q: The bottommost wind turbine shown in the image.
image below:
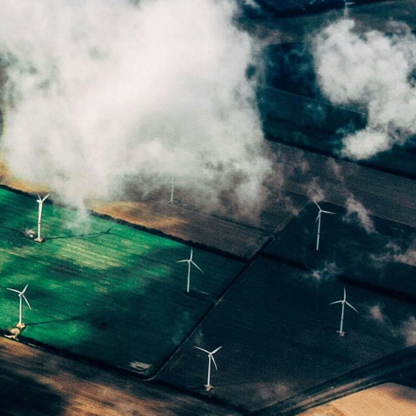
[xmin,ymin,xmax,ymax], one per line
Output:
[193,347,222,389]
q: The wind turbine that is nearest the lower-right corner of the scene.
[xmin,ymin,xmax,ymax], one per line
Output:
[328,289,354,335]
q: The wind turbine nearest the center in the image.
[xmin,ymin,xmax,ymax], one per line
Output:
[163,163,186,205]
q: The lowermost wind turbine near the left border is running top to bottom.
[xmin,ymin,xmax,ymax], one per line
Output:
[6,284,27,328]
